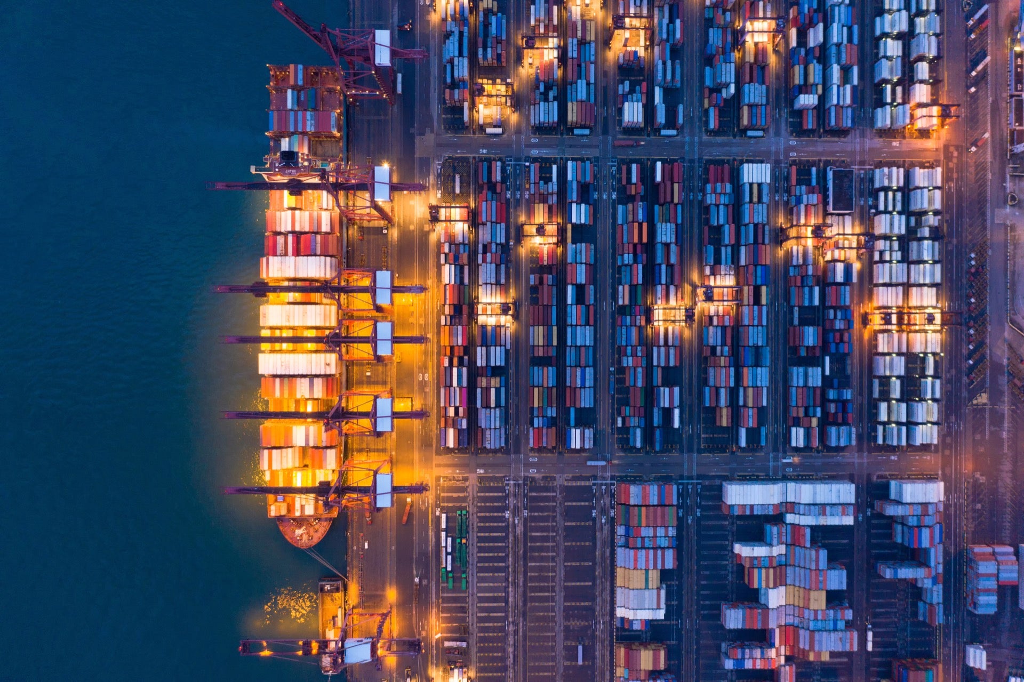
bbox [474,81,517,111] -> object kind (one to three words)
container crane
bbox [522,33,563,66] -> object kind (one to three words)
container crane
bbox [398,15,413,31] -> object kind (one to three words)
work vehicle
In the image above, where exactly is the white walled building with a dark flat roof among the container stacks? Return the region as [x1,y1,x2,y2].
[826,169,855,213]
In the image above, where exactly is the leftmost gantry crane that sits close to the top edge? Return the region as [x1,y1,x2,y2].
[275,1,434,98]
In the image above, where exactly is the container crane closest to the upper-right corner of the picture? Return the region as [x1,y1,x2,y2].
[899,102,956,131]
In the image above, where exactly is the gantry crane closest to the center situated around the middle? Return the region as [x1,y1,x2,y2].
[475,299,518,321]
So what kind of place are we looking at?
port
